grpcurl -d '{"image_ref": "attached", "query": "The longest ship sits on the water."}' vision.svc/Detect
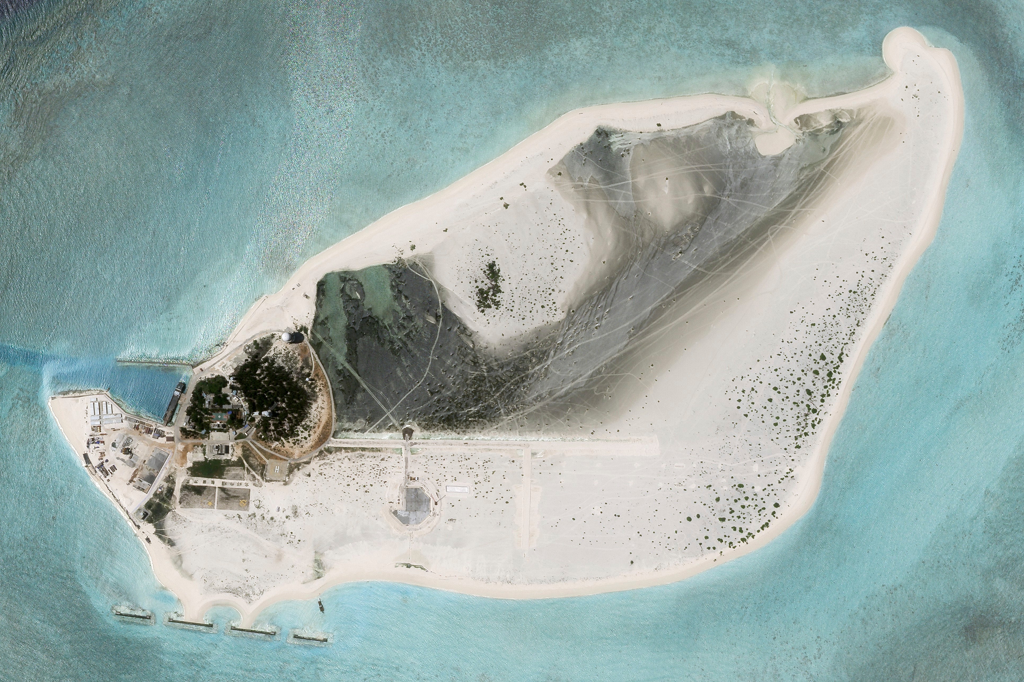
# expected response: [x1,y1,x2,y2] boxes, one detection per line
[162,382,184,427]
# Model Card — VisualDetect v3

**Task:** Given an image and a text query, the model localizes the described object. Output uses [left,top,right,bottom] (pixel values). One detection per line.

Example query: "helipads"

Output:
[263,459,288,482]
